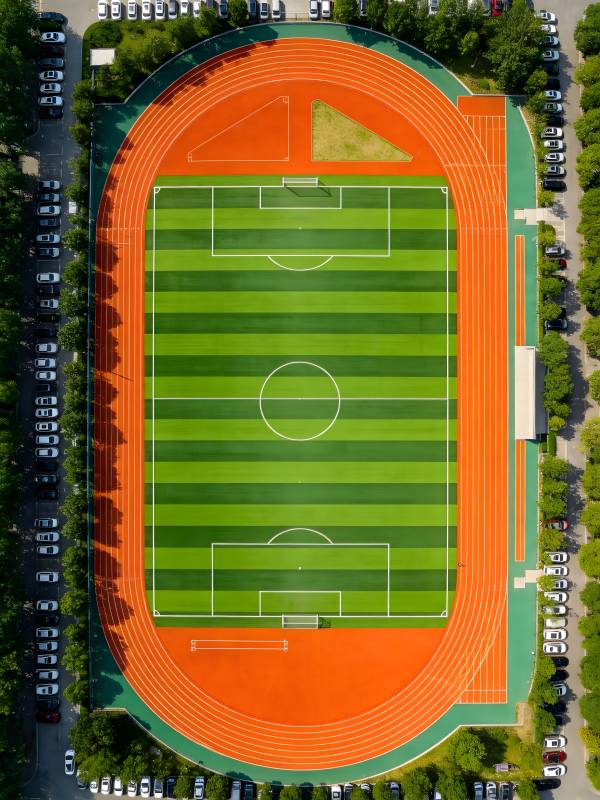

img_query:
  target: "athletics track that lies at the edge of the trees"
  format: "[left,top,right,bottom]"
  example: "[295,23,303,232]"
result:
[90,23,538,785]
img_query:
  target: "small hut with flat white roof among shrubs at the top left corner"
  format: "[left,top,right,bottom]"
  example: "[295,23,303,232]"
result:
[90,48,118,71]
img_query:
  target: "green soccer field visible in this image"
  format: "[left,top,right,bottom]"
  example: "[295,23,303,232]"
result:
[144,176,458,629]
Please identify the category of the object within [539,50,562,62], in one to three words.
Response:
vehicle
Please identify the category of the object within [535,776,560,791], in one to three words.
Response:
car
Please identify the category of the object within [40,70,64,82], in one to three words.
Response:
vehicle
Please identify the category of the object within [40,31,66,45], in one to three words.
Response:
car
